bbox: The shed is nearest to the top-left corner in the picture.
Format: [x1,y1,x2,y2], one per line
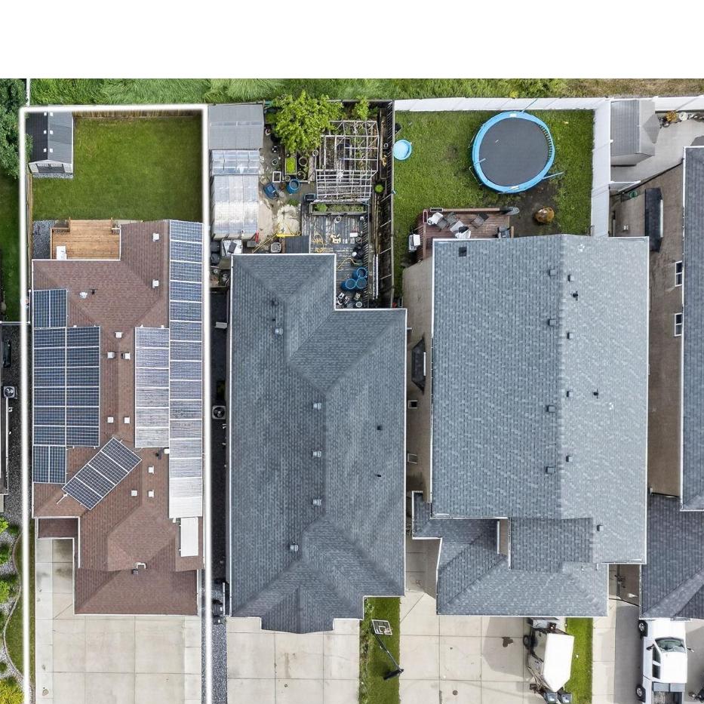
[27,108,73,175]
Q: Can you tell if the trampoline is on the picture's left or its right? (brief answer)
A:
right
